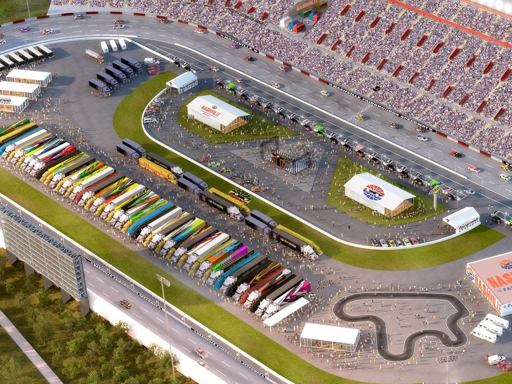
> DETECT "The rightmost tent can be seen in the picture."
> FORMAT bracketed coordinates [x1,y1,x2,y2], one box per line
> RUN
[443,204,482,233]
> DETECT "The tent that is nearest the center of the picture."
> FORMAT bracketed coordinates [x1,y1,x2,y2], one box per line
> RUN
[185,93,251,134]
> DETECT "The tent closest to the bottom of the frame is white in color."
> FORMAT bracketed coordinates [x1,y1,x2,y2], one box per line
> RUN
[298,322,360,351]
